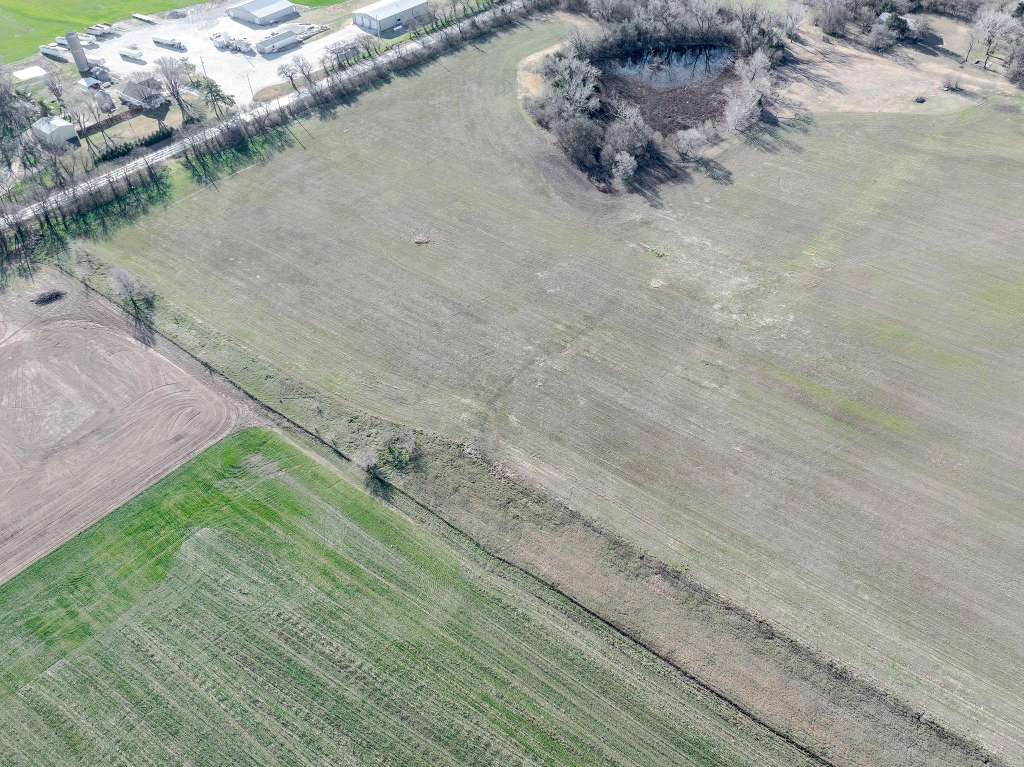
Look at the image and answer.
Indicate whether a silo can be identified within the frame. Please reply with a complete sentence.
Yes, a silo is visible in the scene.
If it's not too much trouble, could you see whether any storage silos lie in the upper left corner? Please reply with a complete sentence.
Yes, in the upper left corner there is a storage silo.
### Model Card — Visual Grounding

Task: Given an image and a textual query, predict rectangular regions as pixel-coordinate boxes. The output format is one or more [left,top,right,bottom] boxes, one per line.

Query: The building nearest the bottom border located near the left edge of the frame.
[28,112,78,143]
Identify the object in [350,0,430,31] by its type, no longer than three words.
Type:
shed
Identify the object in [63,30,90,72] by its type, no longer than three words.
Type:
silo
